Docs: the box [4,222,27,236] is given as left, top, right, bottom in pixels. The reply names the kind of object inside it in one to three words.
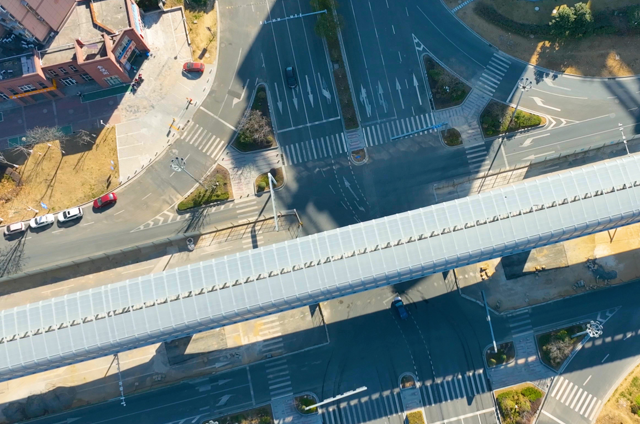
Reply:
vehicle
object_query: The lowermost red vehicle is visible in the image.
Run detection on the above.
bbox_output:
[93,193,118,209]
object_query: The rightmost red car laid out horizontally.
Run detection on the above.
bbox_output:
[183,61,205,73]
